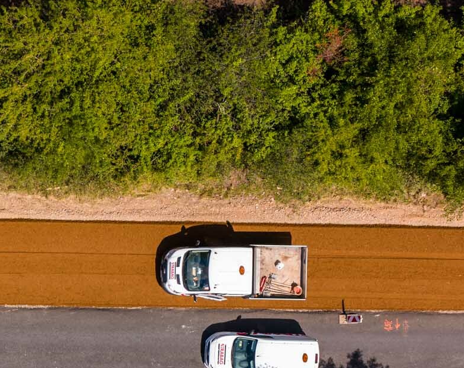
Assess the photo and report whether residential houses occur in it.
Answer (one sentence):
No, there isn't any residential house down there.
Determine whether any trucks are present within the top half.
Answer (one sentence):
No, no truck is visible within the top half.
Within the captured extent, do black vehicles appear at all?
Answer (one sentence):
No, the photo shows no black vehicle.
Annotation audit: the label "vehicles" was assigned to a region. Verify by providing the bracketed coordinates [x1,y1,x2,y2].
[203,329,318,368]
[159,241,308,305]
